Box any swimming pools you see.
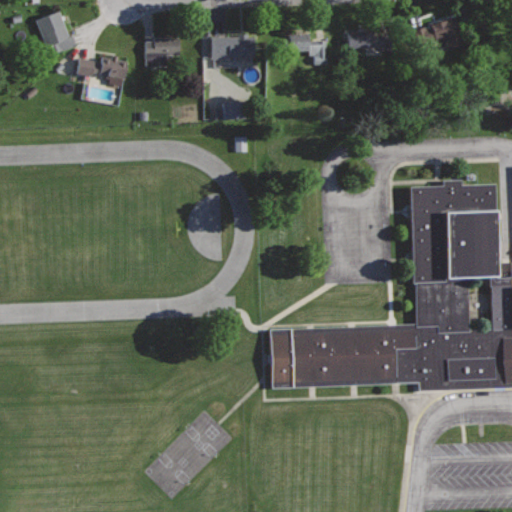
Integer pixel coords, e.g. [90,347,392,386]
[84,76,119,105]
[243,68,258,84]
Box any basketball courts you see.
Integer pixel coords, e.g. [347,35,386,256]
[145,411,232,499]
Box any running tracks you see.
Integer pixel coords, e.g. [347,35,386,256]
[0,140,254,323]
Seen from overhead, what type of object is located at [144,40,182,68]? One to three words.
house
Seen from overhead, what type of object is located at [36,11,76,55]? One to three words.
house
